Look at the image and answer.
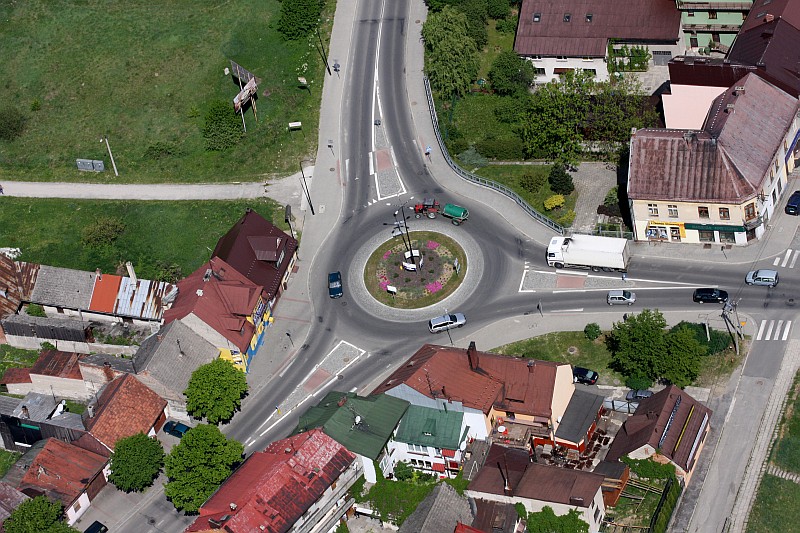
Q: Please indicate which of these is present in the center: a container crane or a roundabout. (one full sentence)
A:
The feature located in the center is a roundabout.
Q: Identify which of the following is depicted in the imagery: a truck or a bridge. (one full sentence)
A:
It is a truck that can be seen here.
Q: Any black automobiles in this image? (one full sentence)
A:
Yes, there's a black automobile here.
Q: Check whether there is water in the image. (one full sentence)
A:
No, the picture contains no water.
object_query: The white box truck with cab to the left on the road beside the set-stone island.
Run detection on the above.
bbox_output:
[545,231,631,271]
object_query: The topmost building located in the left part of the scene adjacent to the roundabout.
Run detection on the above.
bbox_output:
[203,202,302,307]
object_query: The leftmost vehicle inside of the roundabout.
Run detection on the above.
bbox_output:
[327,271,344,302]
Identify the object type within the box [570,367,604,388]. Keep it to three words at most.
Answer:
car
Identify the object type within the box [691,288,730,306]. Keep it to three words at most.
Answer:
car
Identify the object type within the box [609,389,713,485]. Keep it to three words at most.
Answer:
house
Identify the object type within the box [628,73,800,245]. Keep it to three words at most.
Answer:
building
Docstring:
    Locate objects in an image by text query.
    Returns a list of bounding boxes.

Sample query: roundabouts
[310,184,535,361]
